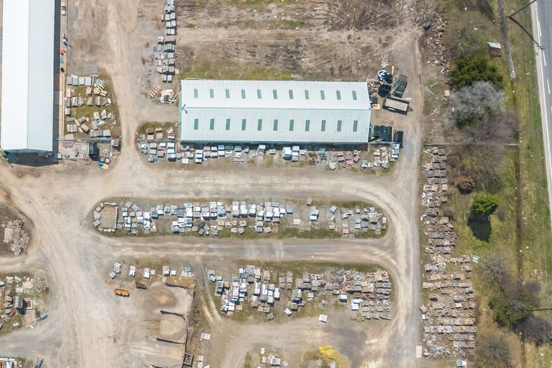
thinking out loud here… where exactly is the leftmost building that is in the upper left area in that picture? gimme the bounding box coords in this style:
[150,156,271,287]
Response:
[4,0,56,153]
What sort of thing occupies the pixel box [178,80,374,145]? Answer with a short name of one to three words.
building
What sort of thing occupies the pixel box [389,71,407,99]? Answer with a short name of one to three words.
vehicle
